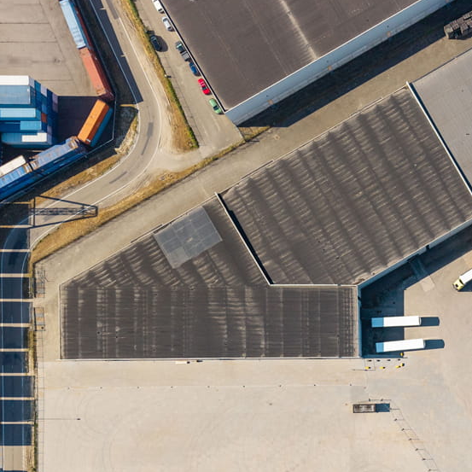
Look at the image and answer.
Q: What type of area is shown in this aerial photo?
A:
industrial area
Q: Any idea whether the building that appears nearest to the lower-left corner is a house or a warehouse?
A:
warehouse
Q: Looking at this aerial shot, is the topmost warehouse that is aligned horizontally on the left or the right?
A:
right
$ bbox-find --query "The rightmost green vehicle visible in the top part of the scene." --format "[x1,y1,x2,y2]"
[209,98,223,115]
